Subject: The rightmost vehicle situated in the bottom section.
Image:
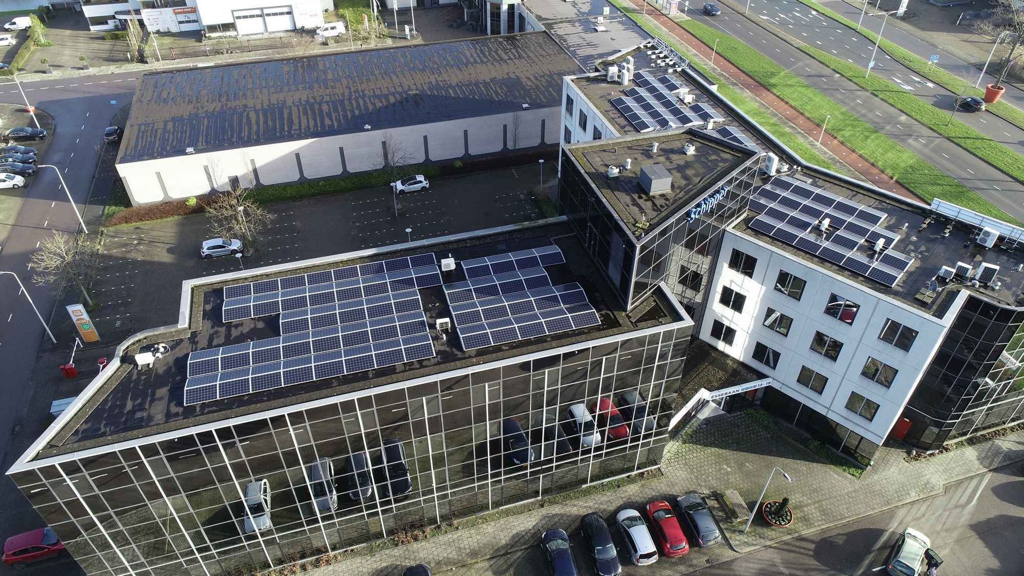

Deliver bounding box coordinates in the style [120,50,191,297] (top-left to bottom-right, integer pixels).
[890,528,944,576]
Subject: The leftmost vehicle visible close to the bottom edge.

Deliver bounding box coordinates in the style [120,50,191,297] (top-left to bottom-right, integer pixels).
[0,523,64,569]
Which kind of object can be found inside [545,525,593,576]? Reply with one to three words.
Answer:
car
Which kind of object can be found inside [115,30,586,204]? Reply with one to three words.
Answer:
building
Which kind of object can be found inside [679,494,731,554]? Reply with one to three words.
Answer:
car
